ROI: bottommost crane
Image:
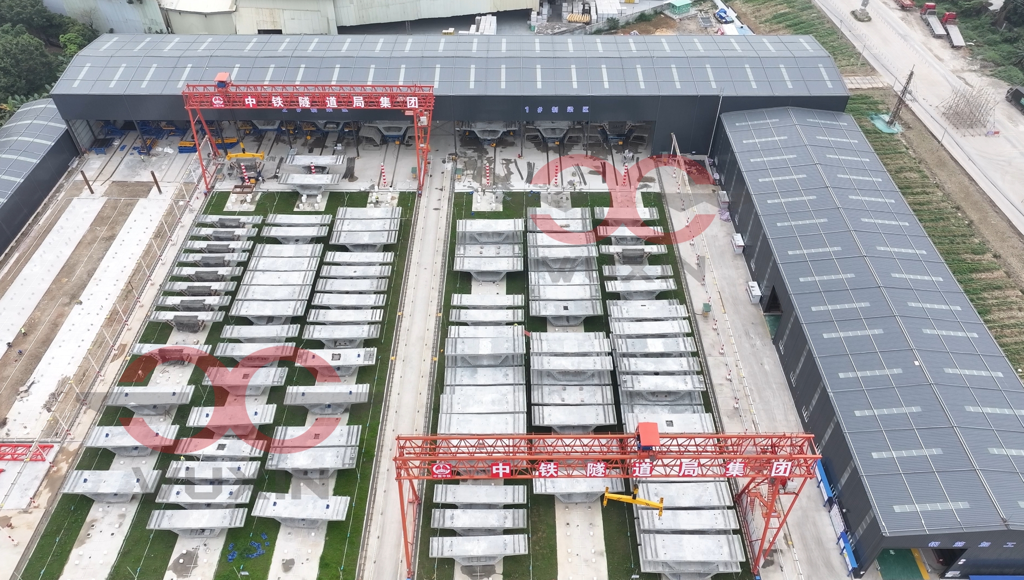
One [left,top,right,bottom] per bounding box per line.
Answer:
[393,425,824,579]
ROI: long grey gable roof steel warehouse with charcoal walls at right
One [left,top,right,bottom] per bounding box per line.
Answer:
[708,106,1024,580]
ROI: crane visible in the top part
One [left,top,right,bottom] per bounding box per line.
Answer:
[177,78,431,193]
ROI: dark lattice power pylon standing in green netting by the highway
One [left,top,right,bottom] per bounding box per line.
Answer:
[890,59,926,127]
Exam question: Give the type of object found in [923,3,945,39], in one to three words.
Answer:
truck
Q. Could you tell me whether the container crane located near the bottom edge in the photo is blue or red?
red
